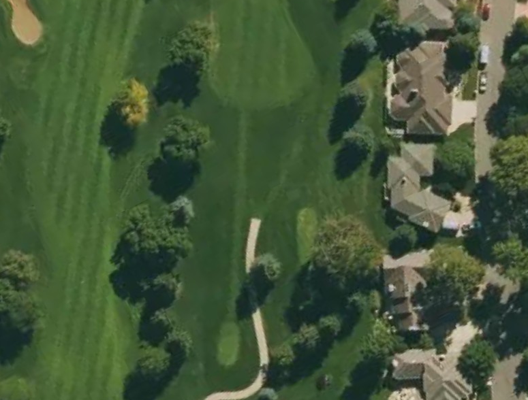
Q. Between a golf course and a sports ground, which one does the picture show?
golf course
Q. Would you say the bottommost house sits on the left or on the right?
right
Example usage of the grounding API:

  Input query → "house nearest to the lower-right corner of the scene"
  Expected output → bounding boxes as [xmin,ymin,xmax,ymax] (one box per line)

[393,349,478,400]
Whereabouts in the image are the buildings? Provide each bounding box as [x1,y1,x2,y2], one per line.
[390,39,455,137]
[382,252,432,333]
[386,141,456,234]
[393,349,478,400]
[396,0,457,30]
